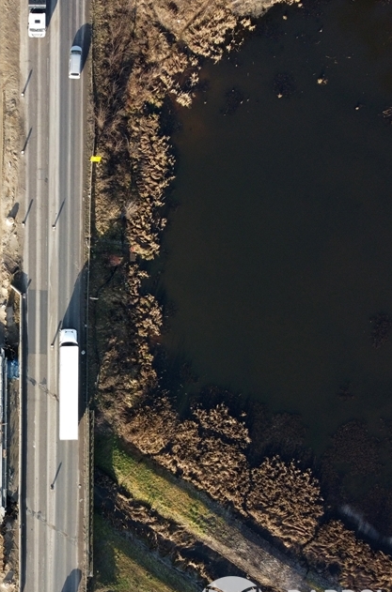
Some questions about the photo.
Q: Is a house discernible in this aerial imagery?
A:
No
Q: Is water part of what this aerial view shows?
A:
Yes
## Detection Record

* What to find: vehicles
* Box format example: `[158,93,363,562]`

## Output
[69,46,83,79]
[26,0,47,36]
[59,327,78,446]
